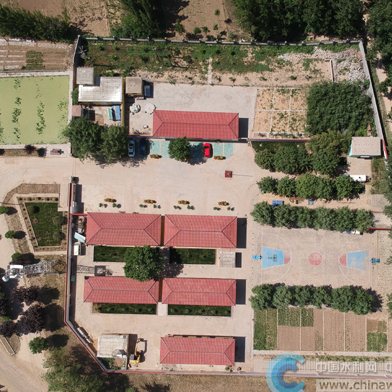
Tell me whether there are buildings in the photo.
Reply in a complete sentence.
Yes, a building appears in the view.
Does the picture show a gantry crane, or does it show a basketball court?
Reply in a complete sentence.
I can see a basketball court in this picture.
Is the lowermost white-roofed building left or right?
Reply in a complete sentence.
The lowermost white-roofed building sits on the left side.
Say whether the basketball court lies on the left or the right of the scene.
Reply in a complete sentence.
The basketball court is on the right side of the image.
